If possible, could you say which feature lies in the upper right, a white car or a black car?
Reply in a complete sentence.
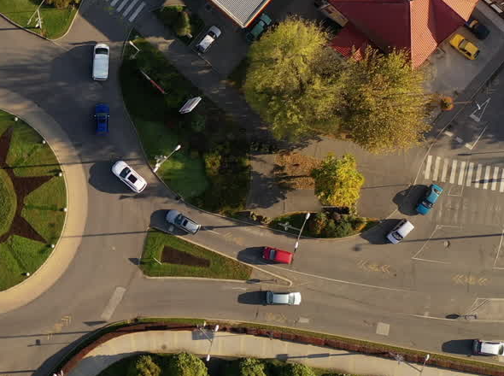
What appears in the upper right is a black car.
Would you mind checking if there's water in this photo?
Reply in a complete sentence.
No, there's no water in this view.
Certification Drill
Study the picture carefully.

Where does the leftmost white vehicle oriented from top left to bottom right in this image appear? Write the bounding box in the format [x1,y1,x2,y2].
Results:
[112,161,148,193]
